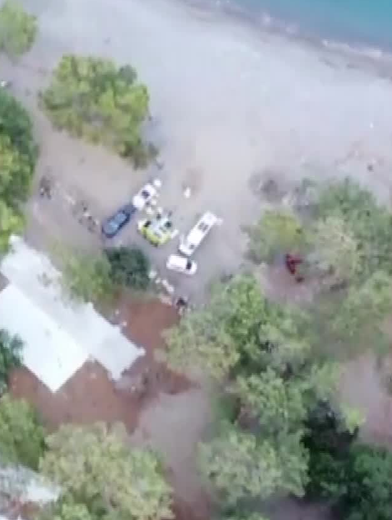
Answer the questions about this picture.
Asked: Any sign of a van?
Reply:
Yes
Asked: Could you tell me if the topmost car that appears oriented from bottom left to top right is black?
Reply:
No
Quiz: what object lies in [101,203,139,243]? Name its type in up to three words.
truck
